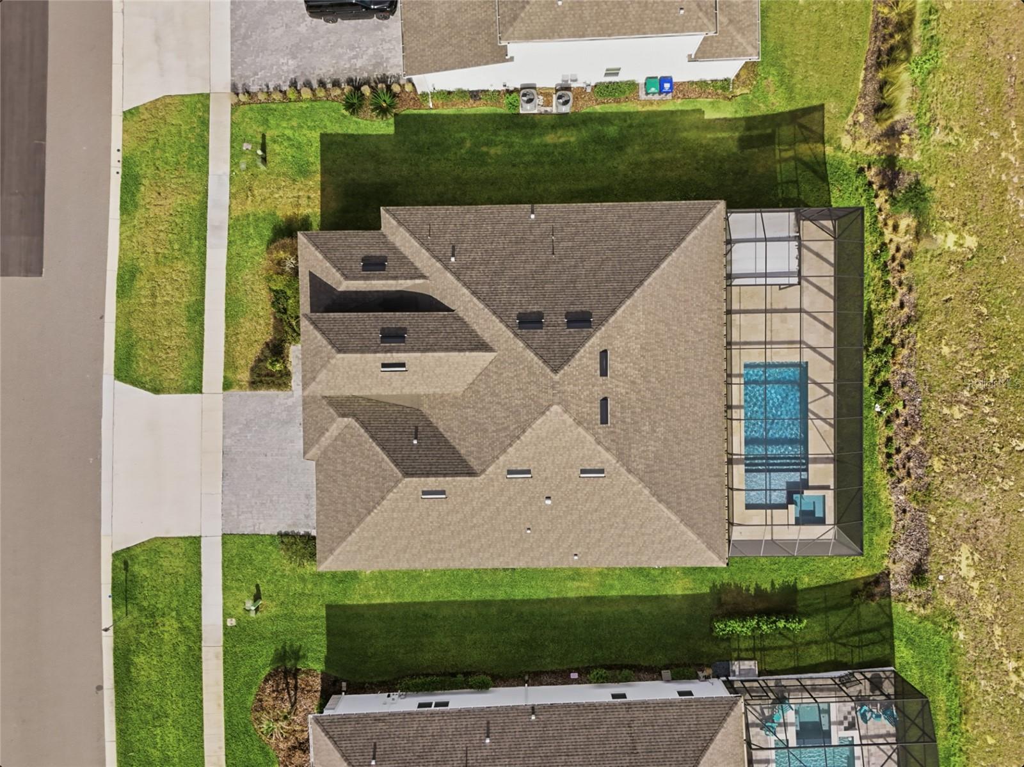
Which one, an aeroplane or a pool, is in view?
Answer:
pool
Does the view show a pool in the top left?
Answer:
No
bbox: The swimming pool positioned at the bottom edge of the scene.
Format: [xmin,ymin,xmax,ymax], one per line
[769,697,861,767]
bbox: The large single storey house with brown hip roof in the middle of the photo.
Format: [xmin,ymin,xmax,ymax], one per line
[296,199,729,572]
